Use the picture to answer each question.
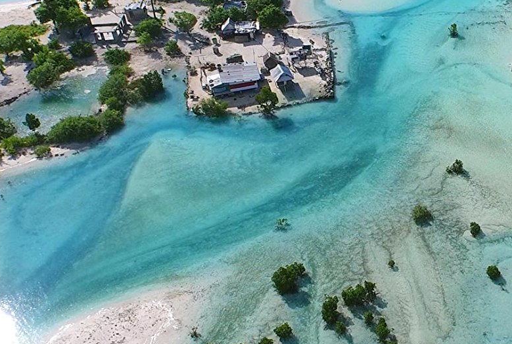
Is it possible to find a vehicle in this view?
No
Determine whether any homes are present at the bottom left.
No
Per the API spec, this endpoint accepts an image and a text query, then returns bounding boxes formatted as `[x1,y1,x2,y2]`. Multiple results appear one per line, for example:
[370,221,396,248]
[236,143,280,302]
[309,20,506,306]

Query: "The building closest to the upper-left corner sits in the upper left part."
[90,7,130,42]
